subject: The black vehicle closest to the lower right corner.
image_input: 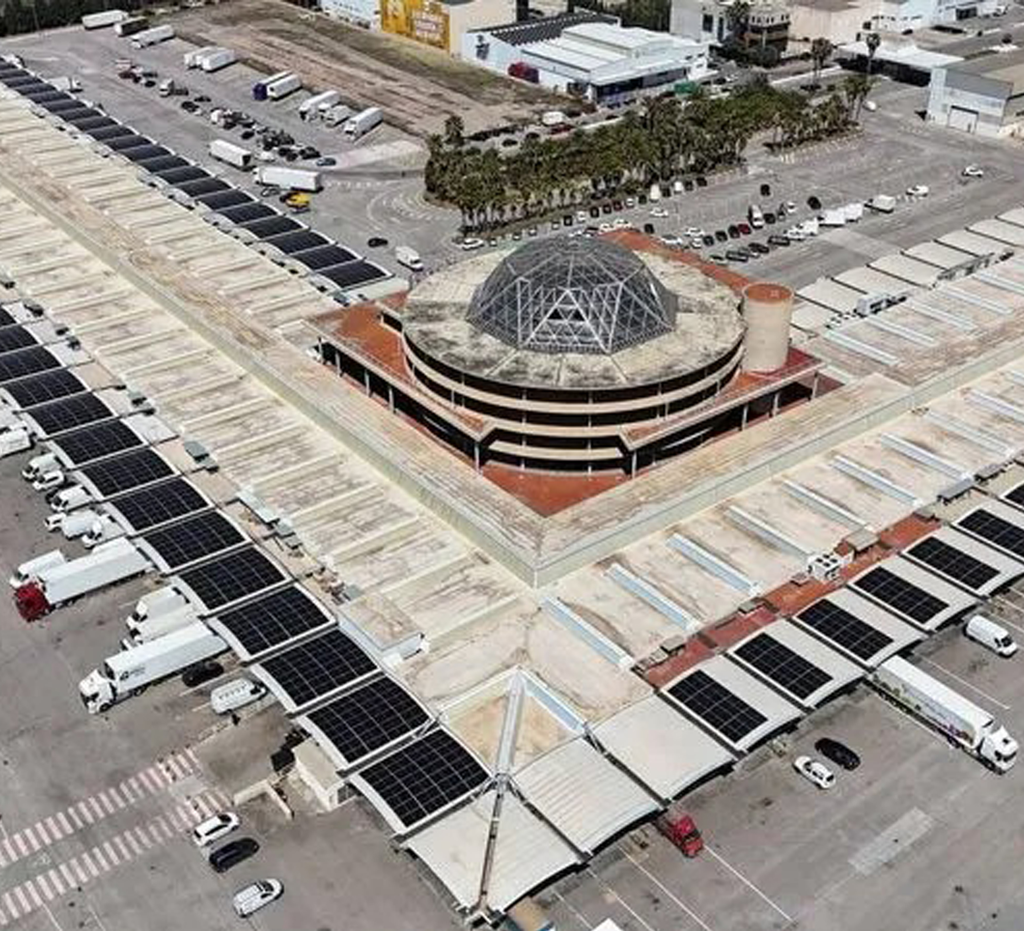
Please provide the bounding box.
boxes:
[815,734,857,767]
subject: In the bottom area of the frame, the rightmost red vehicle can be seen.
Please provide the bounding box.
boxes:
[652,808,712,856]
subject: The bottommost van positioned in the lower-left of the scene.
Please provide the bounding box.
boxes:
[228,872,284,915]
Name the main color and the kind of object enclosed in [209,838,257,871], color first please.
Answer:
black car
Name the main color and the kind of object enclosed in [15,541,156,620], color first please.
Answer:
white truck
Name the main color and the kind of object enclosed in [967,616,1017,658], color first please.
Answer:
white van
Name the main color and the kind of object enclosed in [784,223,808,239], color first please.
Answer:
white vehicle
